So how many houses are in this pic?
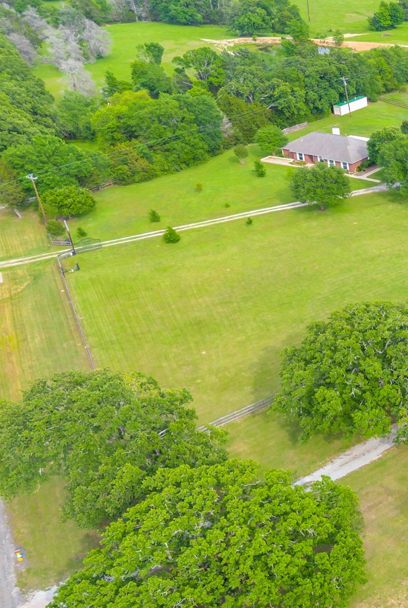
one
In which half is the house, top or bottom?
top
